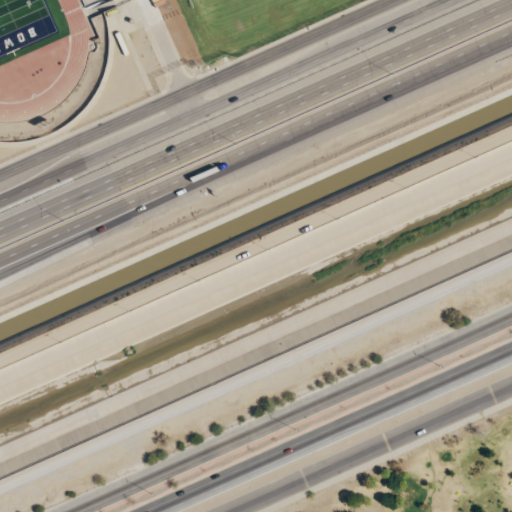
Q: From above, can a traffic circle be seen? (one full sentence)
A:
No, there appears to be no traffic circle in this shot.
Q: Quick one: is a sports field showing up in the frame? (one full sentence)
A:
Yes, I can see a sports field in this picture.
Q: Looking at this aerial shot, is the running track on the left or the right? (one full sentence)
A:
The running track is on the left side of the image.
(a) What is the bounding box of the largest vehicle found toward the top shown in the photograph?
[190,163,227,183]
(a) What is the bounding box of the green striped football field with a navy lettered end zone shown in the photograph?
[0,0,70,66]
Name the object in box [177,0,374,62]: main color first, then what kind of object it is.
green sports field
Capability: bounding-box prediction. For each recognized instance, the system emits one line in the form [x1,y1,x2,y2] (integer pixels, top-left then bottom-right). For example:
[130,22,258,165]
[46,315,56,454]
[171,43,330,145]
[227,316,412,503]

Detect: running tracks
[0,0,89,121]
